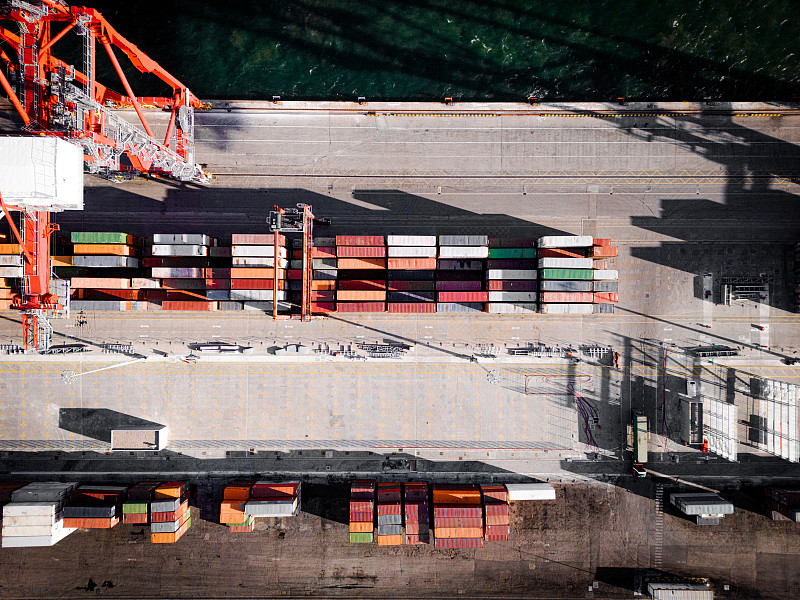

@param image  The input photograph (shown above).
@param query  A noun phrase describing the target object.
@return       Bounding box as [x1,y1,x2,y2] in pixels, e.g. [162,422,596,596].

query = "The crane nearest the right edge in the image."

[259,197,339,326]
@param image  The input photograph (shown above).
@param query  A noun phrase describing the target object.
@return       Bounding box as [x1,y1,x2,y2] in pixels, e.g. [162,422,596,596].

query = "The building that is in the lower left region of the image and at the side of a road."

[111,426,167,450]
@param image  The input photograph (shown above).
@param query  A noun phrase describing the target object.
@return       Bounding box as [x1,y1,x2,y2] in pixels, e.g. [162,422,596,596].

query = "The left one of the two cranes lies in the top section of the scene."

[0,0,215,345]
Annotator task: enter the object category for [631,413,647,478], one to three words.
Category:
vehicle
